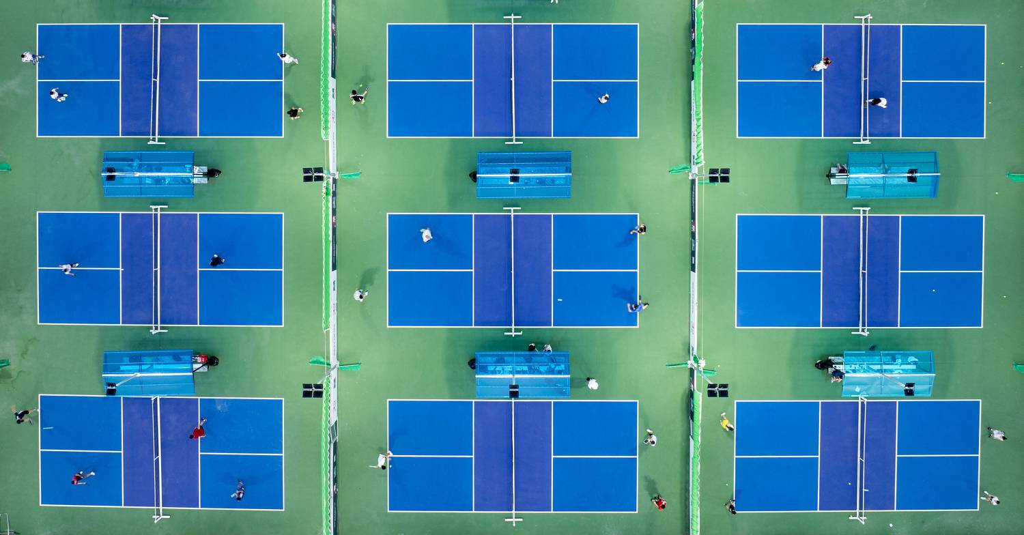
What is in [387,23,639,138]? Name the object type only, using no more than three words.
sports court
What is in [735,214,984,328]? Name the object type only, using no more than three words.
sports court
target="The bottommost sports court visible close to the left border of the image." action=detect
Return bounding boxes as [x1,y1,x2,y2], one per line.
[39,394,284,511]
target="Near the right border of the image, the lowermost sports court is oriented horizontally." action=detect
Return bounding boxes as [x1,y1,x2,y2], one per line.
[735,400,981,512]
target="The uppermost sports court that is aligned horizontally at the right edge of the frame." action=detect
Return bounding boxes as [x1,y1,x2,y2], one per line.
[737,24,987,138]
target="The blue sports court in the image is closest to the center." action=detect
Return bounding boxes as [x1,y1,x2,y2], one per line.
[387,214,639,327]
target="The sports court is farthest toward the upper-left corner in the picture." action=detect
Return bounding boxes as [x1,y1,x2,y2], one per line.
[37,23,284,137]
